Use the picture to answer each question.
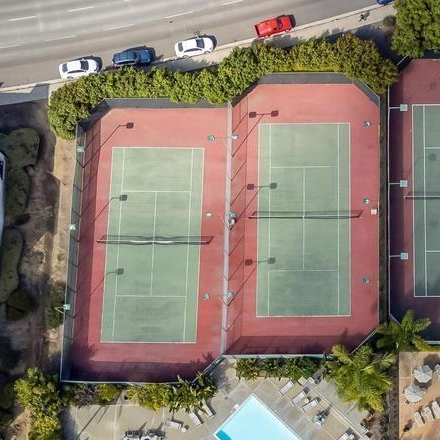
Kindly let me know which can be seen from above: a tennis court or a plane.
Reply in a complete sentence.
There is a tennis court in the scene.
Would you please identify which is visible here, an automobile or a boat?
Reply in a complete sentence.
There is an automobile in the scene.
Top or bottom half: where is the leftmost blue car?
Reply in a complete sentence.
Seen from above, the leftmost blue car lies in the top half of the view.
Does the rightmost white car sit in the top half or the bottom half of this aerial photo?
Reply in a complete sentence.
The top half of the photo is where the rightmost white car is.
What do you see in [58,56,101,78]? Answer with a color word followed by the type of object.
white car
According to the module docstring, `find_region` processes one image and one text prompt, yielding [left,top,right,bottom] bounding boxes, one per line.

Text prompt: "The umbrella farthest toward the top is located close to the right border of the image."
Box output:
[412,363,434,385]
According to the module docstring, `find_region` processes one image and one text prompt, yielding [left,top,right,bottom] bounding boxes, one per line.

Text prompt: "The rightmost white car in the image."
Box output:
[174,36,215,59]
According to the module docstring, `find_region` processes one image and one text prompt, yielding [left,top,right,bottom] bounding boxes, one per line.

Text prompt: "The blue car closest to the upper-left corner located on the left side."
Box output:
[112,46,153,69]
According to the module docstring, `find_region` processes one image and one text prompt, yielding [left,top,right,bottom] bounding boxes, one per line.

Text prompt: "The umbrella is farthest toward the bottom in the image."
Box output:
[403,382,426,405]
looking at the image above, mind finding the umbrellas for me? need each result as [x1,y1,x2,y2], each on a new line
[412,363,434,385]
[403,382,426,405]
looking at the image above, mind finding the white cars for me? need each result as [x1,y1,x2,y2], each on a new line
[174,36,215,59]
[58,56,101,78]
